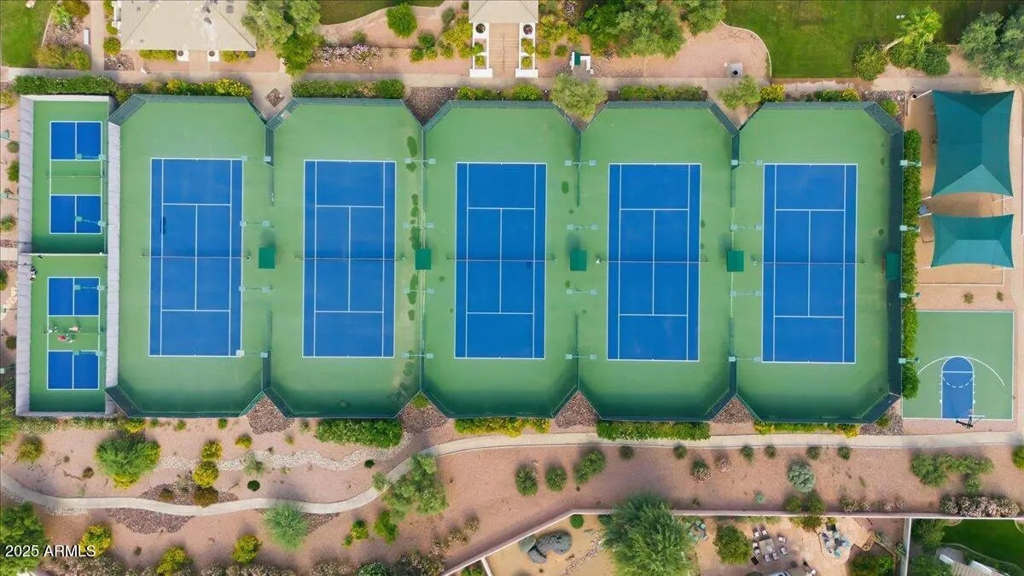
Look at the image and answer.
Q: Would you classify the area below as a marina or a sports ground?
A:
sports ground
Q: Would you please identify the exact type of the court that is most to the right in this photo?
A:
basketball court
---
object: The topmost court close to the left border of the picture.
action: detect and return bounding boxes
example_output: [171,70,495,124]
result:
[31,101,109,254]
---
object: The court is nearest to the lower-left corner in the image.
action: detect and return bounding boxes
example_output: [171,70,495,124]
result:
[29,255,107,412]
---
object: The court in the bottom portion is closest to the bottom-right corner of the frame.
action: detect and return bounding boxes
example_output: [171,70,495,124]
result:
[903,311,1014,420]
